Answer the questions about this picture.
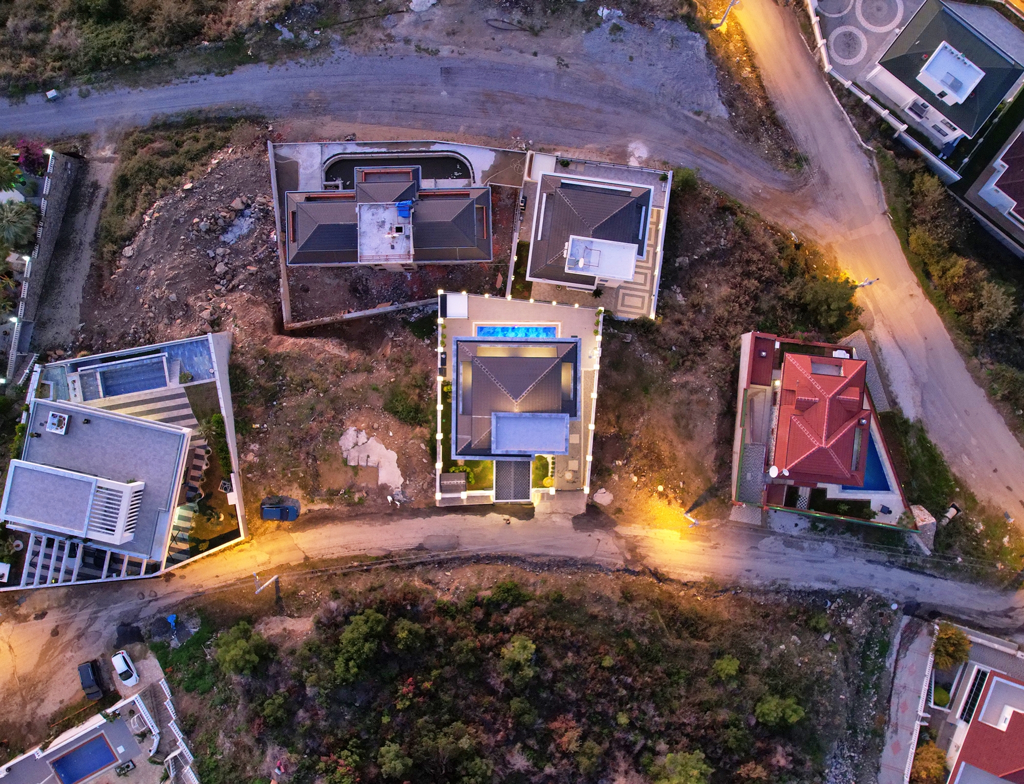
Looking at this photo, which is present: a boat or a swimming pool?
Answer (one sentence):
It is a swimming pool that can be seen here.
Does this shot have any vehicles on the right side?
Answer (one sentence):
No, I can find no vehicle on the right side.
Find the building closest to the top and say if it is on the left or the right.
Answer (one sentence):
It is on the right.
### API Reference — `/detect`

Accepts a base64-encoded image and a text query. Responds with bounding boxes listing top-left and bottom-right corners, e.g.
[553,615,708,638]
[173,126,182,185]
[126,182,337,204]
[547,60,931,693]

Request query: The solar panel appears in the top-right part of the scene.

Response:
[946,72,968,91]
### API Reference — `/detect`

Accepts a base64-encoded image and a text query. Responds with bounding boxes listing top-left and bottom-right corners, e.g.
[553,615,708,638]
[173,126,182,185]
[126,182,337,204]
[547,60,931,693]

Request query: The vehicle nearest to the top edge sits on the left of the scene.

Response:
[258,504,298,523]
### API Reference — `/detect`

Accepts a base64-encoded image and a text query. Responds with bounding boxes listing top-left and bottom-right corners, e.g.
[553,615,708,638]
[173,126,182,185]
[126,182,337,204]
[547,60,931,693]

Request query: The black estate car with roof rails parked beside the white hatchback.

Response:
[73,663,100,703]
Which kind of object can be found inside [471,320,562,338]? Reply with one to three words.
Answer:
swimming pool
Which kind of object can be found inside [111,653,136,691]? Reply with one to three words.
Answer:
car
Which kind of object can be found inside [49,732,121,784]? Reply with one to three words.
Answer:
swimming pool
